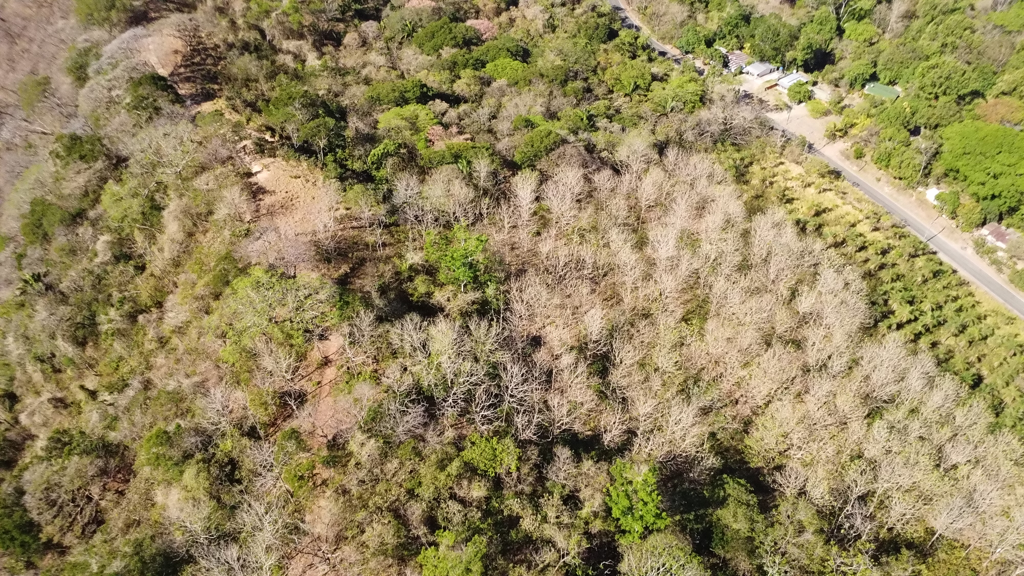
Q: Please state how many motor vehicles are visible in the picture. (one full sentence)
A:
There are no motor vehicles in this view.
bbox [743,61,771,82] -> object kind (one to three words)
house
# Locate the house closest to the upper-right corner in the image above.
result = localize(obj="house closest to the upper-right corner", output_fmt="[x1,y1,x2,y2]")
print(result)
[865,84,900,104]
